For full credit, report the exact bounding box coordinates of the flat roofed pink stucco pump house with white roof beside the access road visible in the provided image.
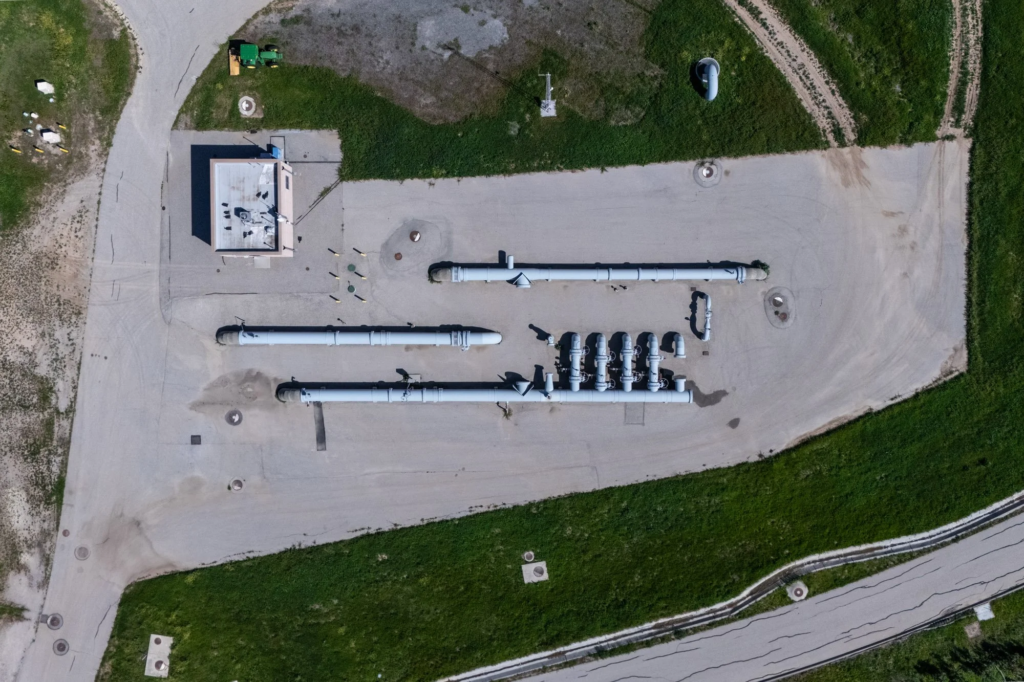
[209,159,293,258]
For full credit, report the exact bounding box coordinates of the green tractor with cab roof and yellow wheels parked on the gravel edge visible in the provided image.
[240,43,283,69]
